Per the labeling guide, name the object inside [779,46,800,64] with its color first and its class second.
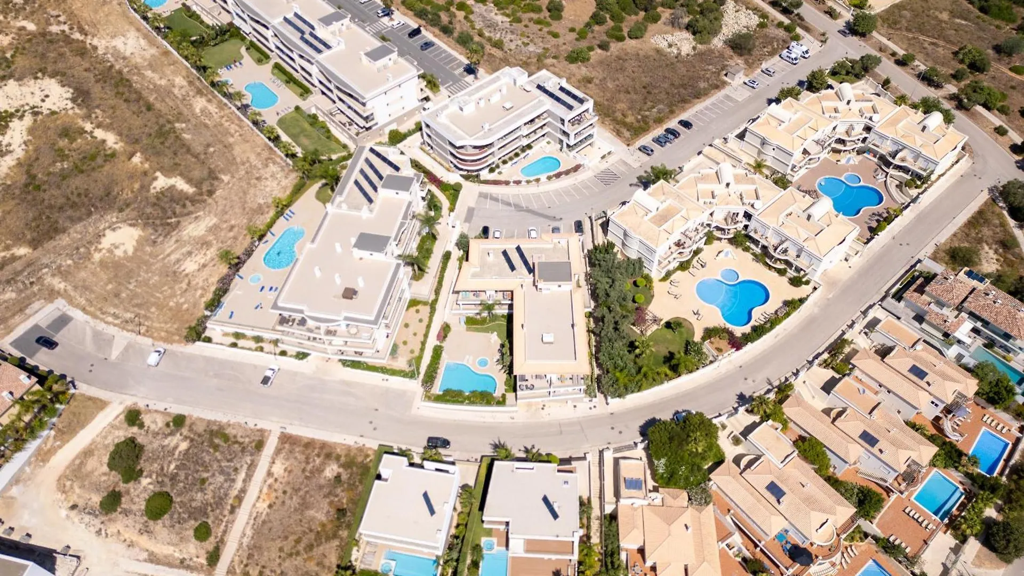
white vehicle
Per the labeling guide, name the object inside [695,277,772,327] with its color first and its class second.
blue swimming pool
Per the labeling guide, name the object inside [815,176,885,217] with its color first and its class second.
blue swimming pool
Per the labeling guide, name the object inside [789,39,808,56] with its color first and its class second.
white vehicle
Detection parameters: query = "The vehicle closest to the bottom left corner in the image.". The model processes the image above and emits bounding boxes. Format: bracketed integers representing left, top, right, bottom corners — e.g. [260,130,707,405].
[34,335,60,350]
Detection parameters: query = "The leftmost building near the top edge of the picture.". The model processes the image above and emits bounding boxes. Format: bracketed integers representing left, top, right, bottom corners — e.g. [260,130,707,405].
[208,0,427,142]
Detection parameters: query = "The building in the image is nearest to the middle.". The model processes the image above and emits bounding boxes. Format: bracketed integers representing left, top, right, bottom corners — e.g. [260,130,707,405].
[451,234,591,406]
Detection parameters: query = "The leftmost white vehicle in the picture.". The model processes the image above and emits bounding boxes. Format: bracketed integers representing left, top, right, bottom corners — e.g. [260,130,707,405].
[143,345,167,367]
